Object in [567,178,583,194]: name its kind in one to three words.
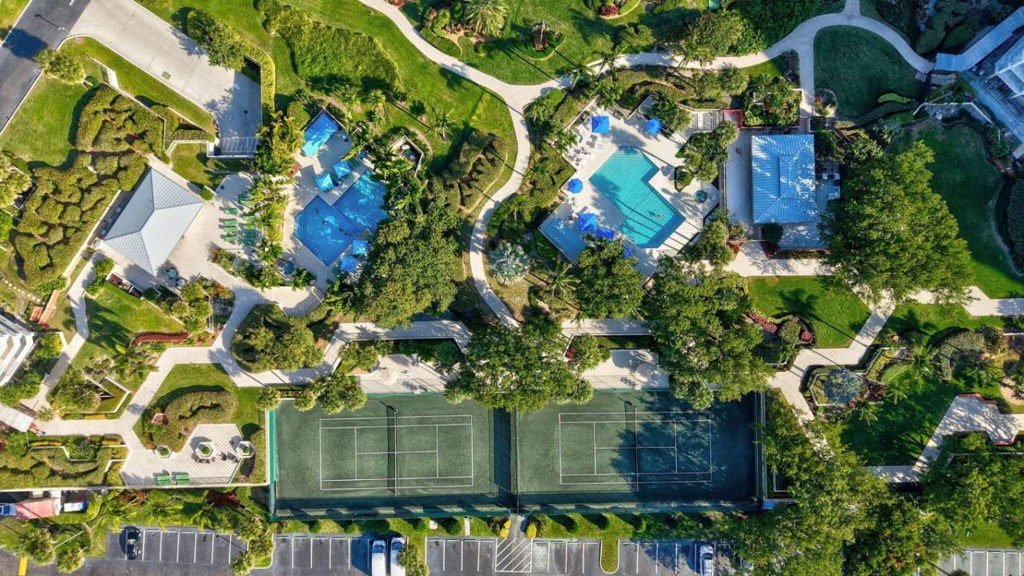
umbrella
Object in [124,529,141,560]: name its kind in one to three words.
car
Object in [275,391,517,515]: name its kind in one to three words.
tennis court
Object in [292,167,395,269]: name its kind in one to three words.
swimming pool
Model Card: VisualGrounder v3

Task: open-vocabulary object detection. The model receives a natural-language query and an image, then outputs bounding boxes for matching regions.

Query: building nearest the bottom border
[0,313,35,385]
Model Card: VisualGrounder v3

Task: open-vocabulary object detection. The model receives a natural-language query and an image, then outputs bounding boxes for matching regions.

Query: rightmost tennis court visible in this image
[517,386,763,514]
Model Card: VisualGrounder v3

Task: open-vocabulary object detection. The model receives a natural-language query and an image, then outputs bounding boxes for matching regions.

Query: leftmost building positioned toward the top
[104,168,208,276]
